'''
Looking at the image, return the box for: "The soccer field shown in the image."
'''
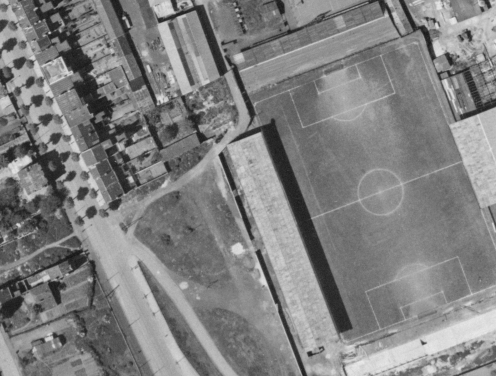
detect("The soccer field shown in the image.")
[255,36,496,344]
